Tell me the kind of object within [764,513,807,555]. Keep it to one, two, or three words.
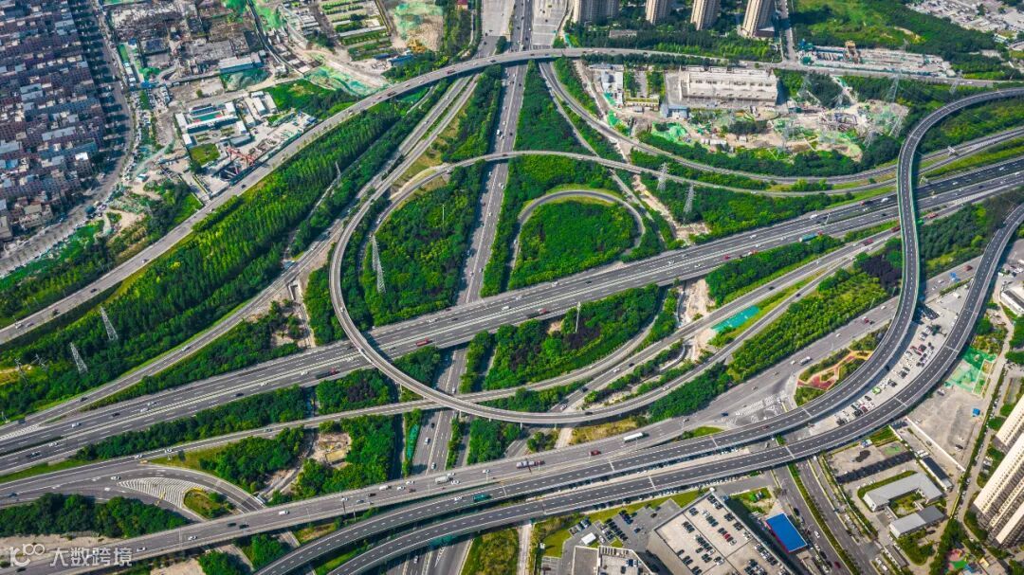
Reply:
building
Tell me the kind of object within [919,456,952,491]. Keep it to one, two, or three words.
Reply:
shed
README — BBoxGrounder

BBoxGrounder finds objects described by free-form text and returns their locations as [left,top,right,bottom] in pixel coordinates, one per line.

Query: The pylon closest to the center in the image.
[370,235,389,294]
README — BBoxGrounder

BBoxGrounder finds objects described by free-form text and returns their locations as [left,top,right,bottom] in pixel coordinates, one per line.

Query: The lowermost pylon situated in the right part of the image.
[682,183,694,220]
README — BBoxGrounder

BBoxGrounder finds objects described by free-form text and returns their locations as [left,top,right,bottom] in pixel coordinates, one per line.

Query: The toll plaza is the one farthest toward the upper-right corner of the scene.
[532,0,563,49]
